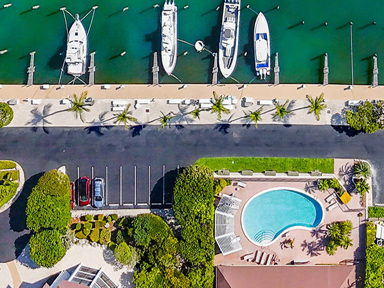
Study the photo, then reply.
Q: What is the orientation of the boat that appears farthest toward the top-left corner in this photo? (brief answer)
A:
up and down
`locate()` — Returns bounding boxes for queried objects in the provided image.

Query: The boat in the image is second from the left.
[161,0,178,76]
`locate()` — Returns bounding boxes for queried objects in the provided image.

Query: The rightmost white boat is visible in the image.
[253,13,270,81]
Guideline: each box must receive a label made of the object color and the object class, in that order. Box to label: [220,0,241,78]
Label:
white boat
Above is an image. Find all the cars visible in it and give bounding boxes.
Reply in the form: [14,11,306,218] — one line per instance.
[76,176,91,206]
[67,181,76,209]
[90,176,106,208]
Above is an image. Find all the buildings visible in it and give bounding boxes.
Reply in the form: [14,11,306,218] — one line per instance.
[216,258,354,288]
[44,259,122,288]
